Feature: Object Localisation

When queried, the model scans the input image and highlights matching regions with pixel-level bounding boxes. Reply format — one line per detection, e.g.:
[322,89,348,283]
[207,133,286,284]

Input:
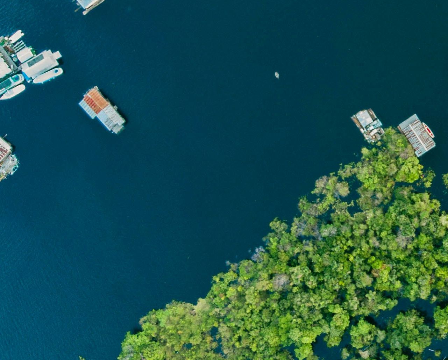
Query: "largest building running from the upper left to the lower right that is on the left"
[79,86,128,133]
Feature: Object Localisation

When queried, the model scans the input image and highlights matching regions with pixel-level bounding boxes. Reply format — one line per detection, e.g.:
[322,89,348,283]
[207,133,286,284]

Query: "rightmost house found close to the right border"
[398,114,437,156]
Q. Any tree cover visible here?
Yes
